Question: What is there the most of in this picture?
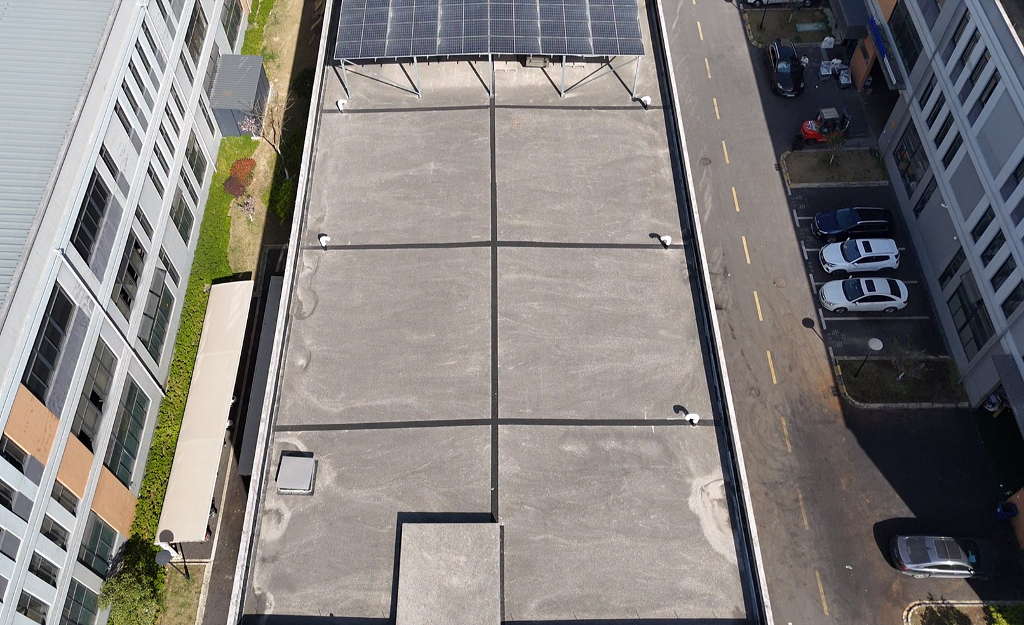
buildings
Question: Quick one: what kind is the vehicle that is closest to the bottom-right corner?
automobile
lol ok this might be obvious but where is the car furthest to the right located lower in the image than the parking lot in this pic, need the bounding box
[890,527,1005,578]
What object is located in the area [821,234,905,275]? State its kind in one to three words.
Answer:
car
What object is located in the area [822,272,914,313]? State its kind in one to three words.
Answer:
car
